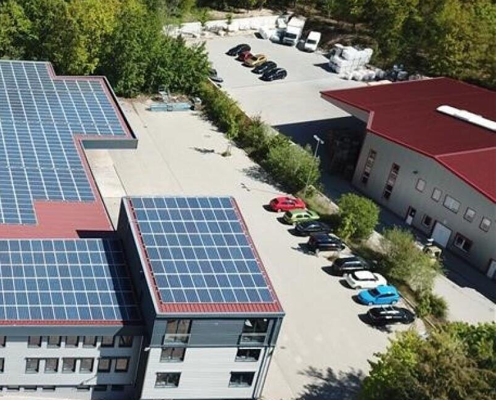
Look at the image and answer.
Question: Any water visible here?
No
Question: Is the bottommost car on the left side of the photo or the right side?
right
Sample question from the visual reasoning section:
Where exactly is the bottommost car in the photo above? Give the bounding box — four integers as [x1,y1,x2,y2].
[361,305,418,327]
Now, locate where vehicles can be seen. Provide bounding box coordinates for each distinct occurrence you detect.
[355,286,403,307]
[227,44,249,57]
[341,271,387,291]
[302,29,320,54]
[291,219,332,237]
[282,208,318,225]
[236,50,255,63]
[268,196,307,214]
[252,62,276,76]
[302,233,349,253]
[326,255,376,275]
[244,55,266,68]
[262,69,287,83]
[361,305,418,327]
[284,10,304,46]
